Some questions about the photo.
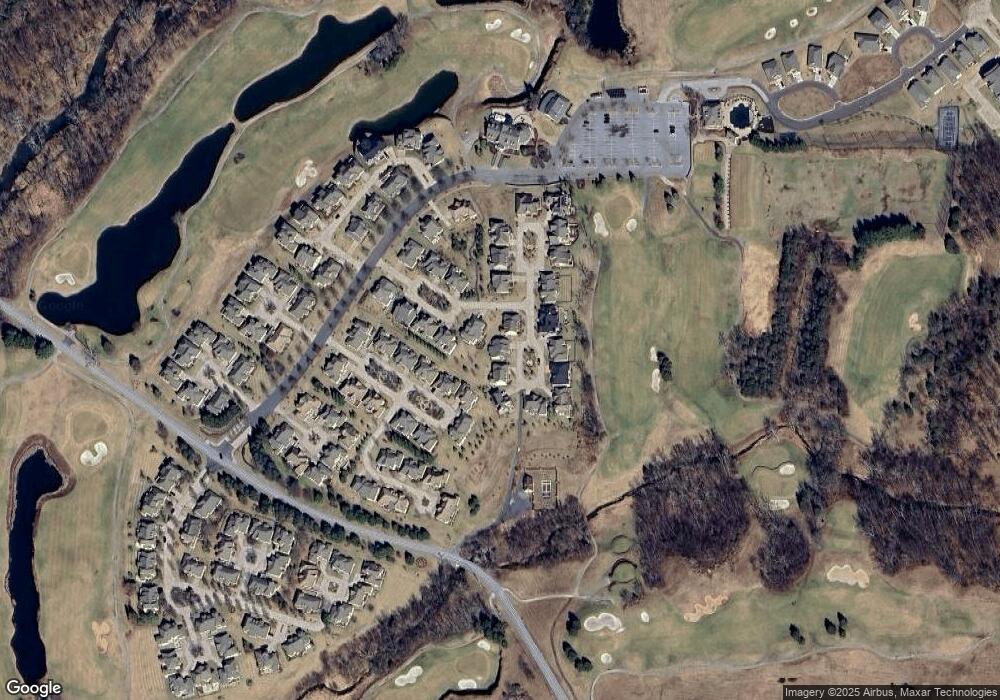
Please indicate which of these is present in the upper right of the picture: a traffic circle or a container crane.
traffic circle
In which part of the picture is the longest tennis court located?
top right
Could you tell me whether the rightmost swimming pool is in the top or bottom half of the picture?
top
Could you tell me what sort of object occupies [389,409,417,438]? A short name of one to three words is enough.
house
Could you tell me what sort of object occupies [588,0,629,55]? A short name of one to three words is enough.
pond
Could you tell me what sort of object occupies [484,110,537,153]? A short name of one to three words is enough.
building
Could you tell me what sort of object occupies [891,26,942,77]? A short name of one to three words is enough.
roundabout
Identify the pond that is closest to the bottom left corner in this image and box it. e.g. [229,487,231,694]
[8,449,62,688]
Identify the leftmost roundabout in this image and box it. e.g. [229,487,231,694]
[771,78,842,126]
